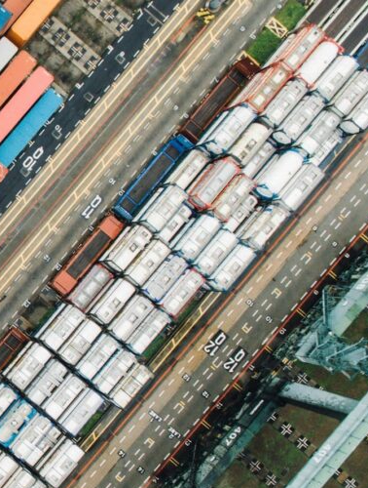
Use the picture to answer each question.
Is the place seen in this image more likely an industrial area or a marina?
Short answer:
industrial area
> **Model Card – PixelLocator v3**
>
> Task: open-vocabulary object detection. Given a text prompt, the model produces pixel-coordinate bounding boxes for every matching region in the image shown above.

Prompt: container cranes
[277,252,368,386]
[169,351,368,488]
